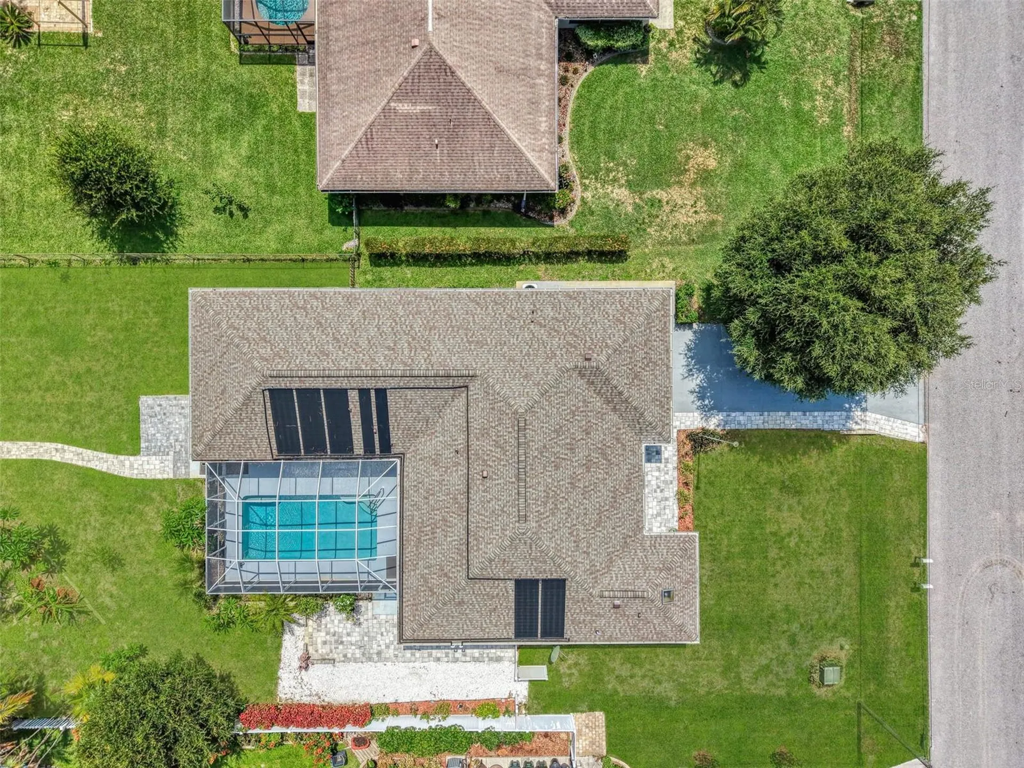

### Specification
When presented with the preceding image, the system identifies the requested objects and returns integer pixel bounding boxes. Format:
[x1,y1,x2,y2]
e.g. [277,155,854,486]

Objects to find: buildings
[188,286,700,646]
[316,0,661,211]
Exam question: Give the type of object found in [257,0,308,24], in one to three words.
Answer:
swimming pool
